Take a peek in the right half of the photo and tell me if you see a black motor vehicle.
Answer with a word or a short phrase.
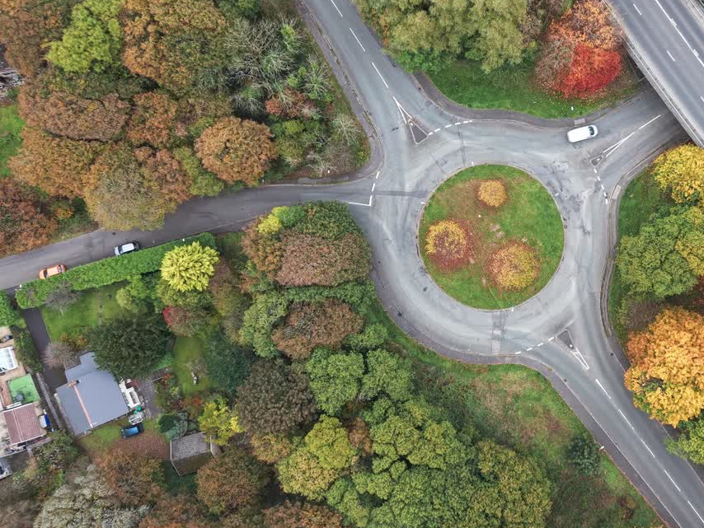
No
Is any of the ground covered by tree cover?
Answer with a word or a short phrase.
Yes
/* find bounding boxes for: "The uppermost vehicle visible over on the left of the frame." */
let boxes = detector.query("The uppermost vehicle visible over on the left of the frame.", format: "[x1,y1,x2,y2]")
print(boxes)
[113,240,141,256]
